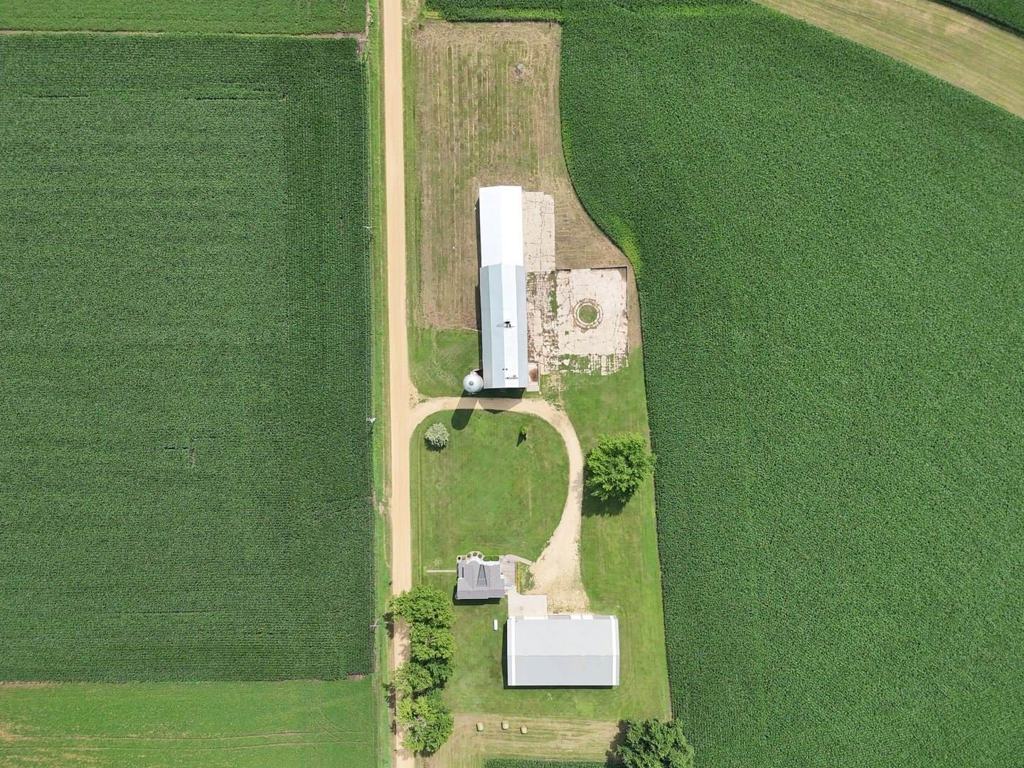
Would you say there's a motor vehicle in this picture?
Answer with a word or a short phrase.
No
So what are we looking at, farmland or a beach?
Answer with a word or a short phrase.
farmland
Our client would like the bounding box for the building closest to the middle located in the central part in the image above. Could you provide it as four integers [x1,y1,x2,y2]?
[480,262,528,389]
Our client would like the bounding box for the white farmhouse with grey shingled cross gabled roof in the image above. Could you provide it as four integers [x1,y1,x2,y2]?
[457,555,505,599]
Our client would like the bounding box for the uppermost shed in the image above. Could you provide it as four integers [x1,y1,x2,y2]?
[479,186,524,267]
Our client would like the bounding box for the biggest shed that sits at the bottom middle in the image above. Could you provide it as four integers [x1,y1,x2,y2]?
[507,615,620,686]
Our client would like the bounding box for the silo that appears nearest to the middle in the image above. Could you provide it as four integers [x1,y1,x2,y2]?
[462,370,483,395]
